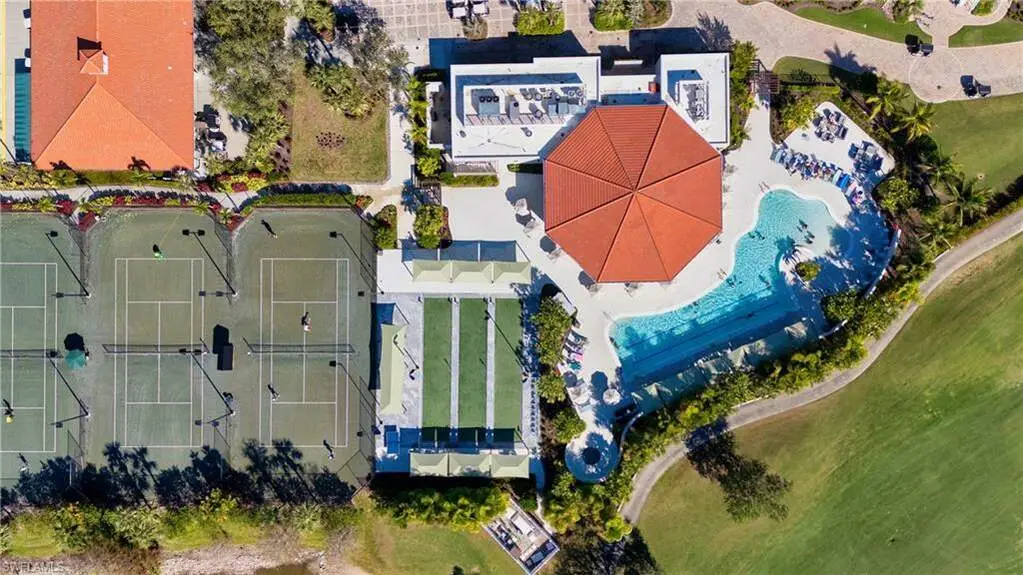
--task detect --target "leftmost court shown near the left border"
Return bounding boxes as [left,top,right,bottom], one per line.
[0,212,82,504]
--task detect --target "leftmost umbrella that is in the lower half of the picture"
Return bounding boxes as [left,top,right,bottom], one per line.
[66,347,86,367]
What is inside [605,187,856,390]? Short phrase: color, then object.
blue swimming pool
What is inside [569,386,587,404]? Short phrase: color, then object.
white umbrella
